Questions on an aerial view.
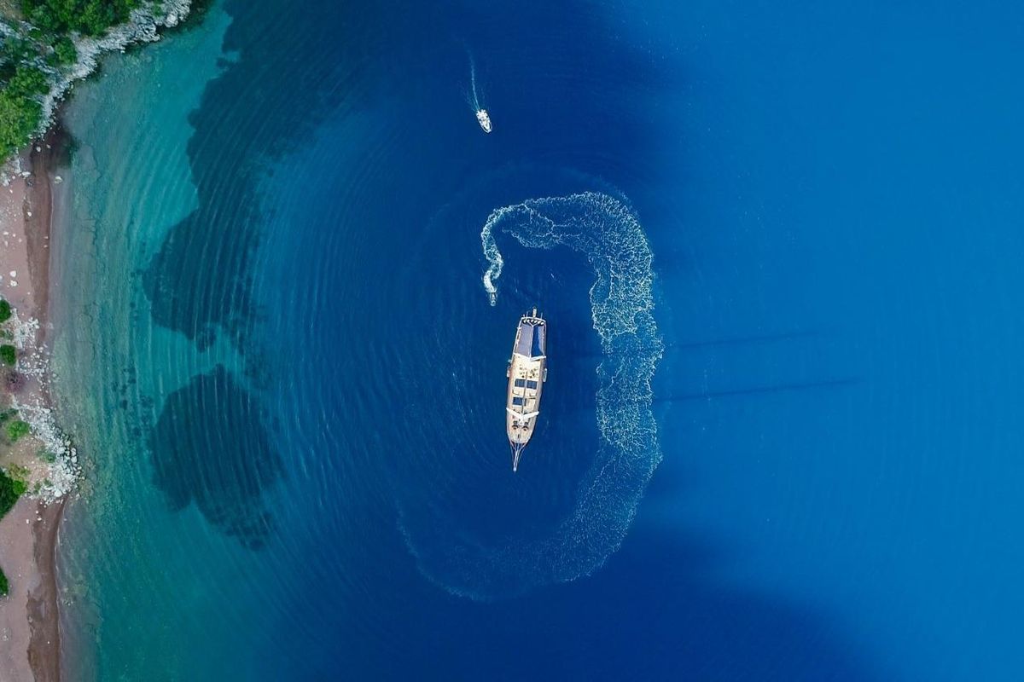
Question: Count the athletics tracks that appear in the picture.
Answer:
none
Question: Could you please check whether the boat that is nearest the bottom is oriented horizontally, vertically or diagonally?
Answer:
vertically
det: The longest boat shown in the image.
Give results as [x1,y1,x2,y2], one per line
[506,308,547,471]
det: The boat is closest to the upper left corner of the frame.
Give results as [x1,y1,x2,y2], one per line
[476,110,491,133]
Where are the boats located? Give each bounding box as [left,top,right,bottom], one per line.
[506,308,547,471]
[490,292,496,306]
[476,110,491,133]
